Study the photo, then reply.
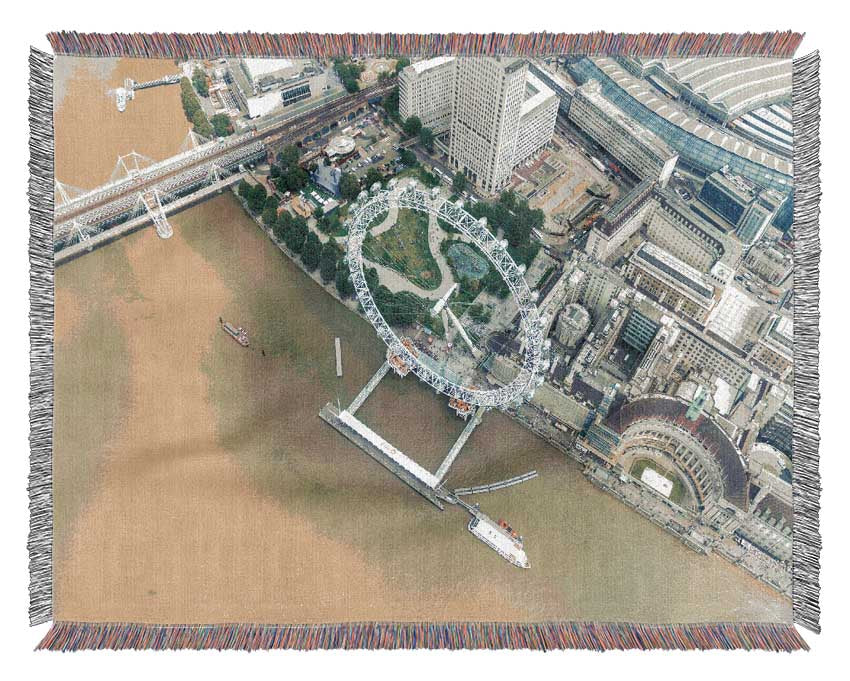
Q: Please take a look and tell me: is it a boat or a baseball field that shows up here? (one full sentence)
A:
Visible in the photo is a boat.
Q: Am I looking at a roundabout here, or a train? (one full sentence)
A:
Looking from above, you can make out a train.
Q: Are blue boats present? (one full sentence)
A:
No, I find no blue boat anywhere in the image.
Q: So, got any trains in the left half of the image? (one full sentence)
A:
Yes, in the left half of the image there is a train.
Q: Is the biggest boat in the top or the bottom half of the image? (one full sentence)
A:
It is in the bottom half that the biggest boat appears.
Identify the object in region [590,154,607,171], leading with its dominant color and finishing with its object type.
white vehicle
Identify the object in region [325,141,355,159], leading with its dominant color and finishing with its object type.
white tent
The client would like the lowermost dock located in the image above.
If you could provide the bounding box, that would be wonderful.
[437,485,480,517]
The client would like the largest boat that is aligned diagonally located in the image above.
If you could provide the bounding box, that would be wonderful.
[467,512,530,568]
